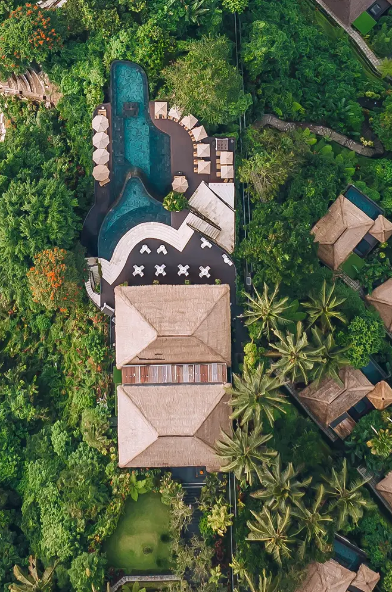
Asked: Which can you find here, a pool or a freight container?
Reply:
pool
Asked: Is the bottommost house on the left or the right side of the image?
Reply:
right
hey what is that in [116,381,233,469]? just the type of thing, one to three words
building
